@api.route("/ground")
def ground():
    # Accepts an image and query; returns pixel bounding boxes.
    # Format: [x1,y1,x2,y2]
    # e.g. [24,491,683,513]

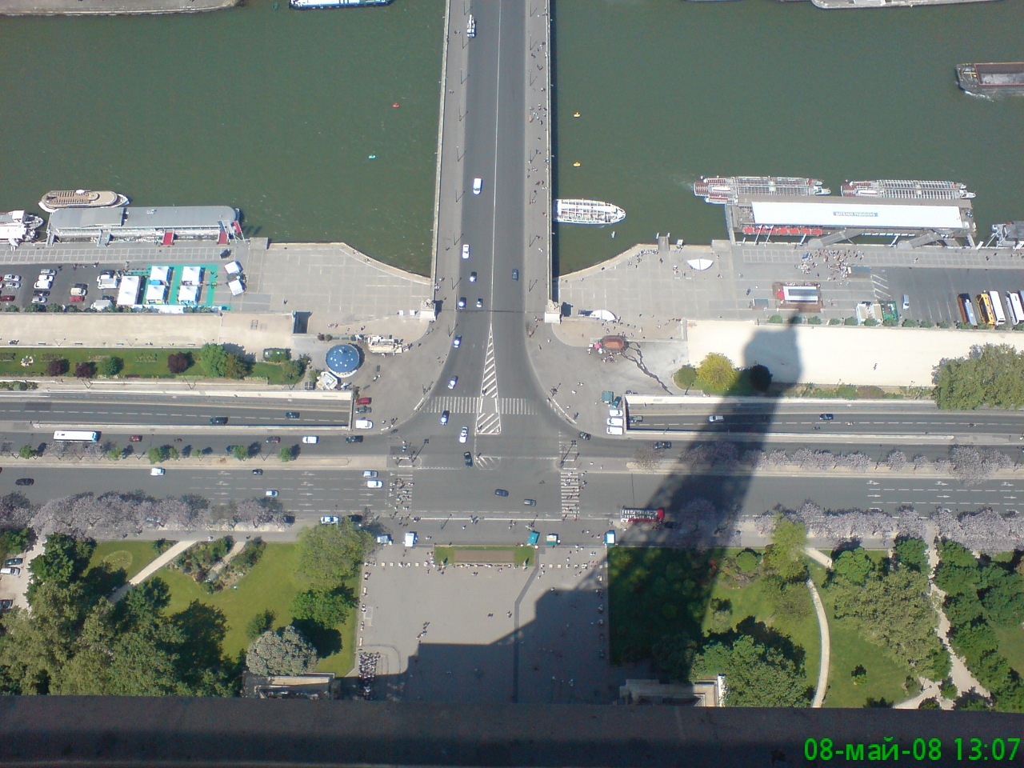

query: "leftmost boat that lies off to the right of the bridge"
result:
[552,200,625,225]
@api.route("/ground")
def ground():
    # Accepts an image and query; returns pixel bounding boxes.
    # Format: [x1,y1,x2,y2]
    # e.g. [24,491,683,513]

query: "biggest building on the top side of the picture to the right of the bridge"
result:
[767,280,821,312]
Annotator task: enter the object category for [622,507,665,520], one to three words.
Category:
vehicle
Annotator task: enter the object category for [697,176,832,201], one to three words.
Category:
boat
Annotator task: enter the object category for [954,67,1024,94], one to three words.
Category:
ship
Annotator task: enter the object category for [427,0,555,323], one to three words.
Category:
bridge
